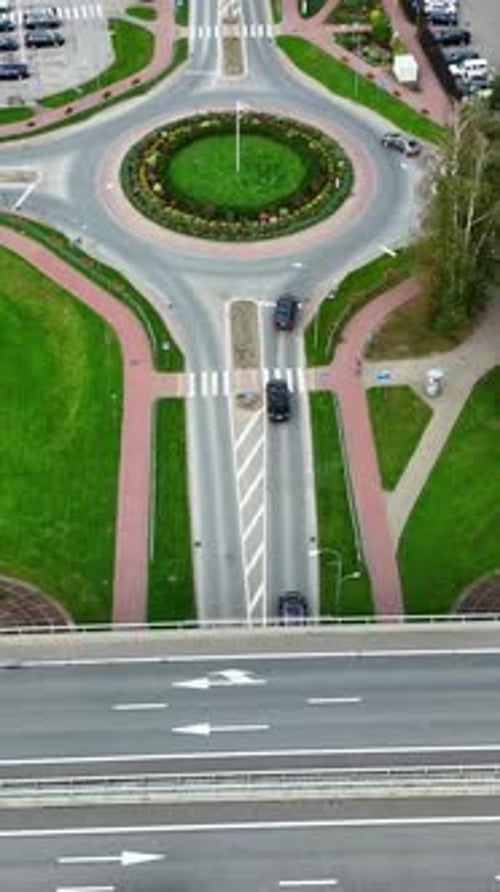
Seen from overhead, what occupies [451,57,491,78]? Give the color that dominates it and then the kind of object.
white vehicle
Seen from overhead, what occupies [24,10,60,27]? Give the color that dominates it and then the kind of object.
gray car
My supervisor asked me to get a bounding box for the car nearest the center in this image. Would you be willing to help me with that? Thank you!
[266,380,292,423]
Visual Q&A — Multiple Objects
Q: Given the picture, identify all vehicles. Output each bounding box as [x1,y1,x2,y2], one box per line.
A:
[266,380,292,423]
[444,46,480,62]
[429,10,463,27]
[424,370,446,397]
[0,16,16,32]
[24,10,60,27]
[277,597,307,625]
[436,30,472,47]
[383,134,422,156]
[0,63,30,80]
[451,57,491,78]
[274,296,298,331]
[24,30,64,47]
[0,35,17,51]
[0,0,10,12]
